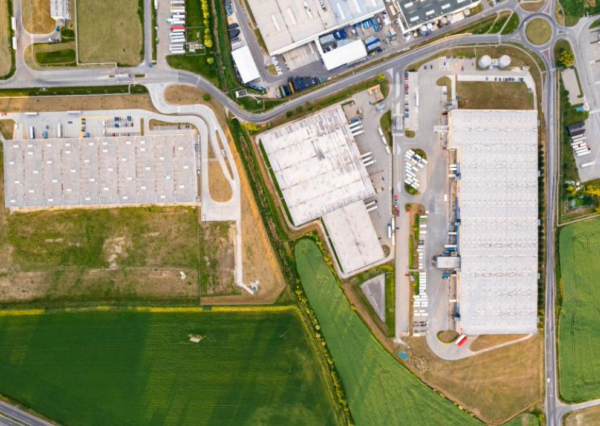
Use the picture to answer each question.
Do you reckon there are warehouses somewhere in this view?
Yes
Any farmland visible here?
Yes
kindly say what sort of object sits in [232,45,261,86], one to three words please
shed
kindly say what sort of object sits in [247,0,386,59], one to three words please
building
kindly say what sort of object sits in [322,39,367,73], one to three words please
shed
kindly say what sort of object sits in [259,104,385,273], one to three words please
warehouse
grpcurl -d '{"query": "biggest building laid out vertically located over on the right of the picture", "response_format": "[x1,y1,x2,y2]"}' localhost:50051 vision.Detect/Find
[448,110,540,334]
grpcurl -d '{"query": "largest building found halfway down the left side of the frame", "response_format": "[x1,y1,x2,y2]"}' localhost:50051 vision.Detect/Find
[4,132,199,207]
